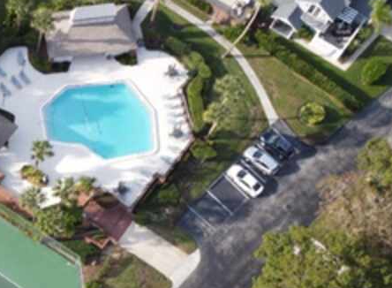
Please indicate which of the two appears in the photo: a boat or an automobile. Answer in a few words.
automobile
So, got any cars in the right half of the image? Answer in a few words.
Yes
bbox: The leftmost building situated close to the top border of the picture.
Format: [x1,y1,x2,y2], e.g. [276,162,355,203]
[35,0,138,65]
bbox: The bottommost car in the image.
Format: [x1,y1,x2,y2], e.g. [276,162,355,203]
[226,168,264,199]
